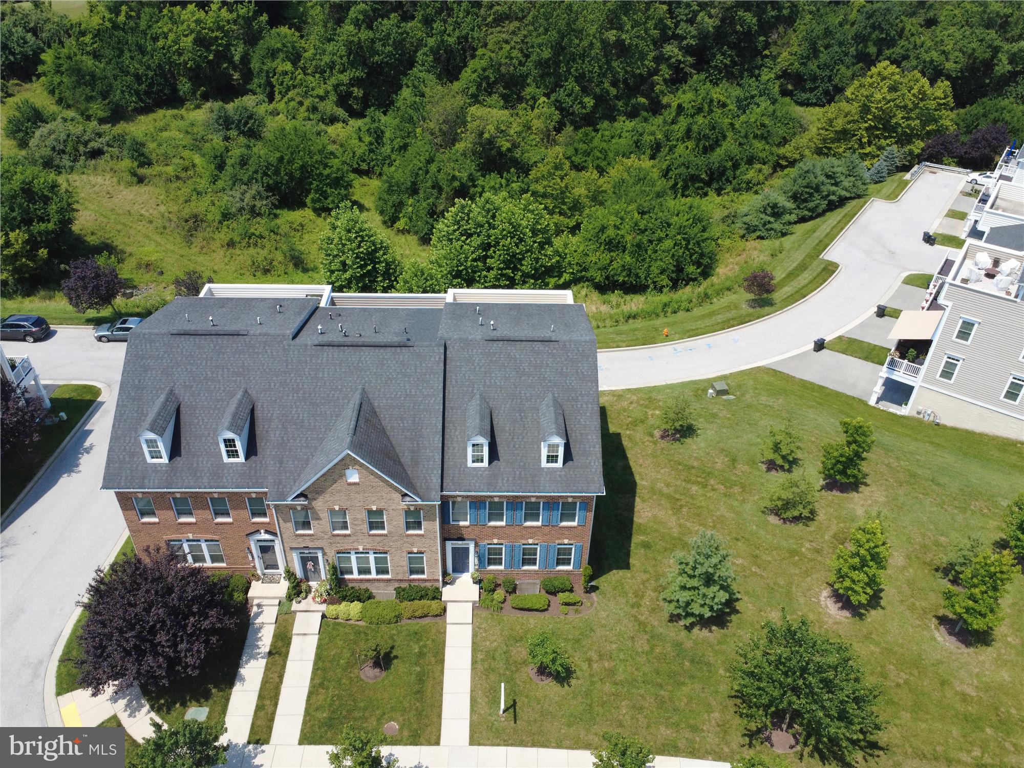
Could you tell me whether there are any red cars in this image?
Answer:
No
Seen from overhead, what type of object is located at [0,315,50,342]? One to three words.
car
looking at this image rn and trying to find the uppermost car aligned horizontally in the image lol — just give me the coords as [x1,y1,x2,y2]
[967,174,994,186]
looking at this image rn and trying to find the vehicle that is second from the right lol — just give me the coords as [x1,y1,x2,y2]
[92,318,142,342]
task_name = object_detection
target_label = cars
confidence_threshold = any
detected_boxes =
[0,315,50,342]
[967,174,994,186]
[92,318,142,342]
